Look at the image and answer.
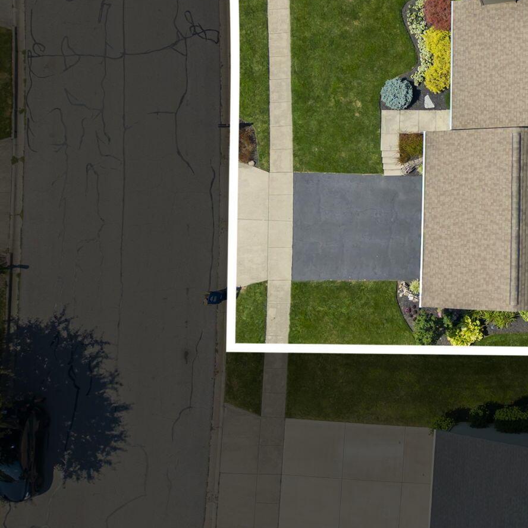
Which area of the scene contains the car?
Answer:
bottom left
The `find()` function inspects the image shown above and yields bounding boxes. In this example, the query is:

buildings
[417,0,528,313]
[427,419,528,528]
